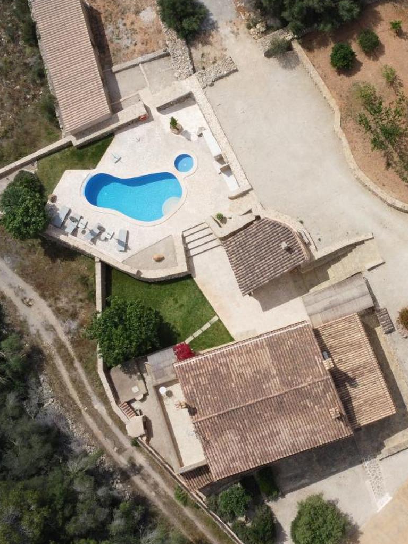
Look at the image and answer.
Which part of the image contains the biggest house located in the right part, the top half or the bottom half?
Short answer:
bottom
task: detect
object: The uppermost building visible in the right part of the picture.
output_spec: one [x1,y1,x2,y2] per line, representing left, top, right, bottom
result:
[221,217,309,296]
